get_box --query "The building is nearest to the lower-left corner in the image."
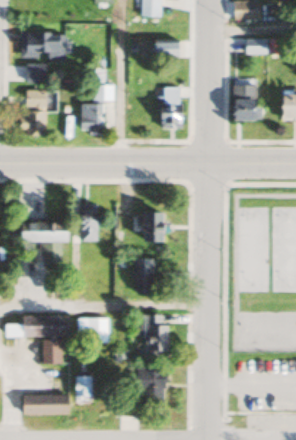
[23,394,70,416]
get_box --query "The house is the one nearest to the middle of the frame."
[141,212,170,248]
